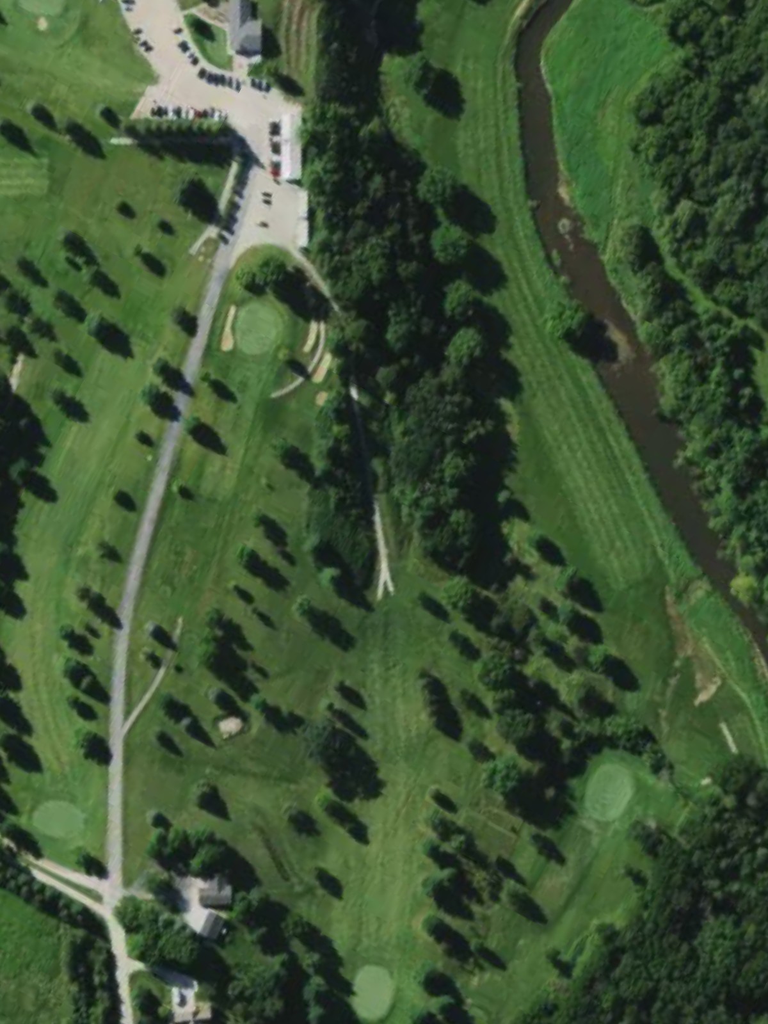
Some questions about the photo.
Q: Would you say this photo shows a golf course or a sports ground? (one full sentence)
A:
This image shows a golf course.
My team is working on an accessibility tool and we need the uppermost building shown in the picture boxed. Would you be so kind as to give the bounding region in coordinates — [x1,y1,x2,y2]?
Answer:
[228,0,262,52]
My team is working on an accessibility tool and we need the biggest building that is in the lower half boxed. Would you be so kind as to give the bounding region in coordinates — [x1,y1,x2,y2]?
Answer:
[199,878,232,907]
